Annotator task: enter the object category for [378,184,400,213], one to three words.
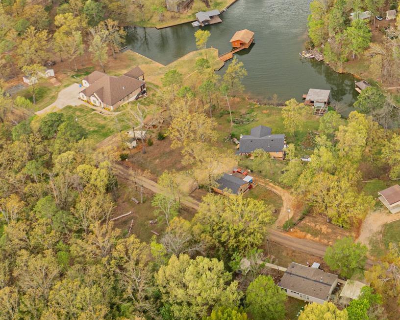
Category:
building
